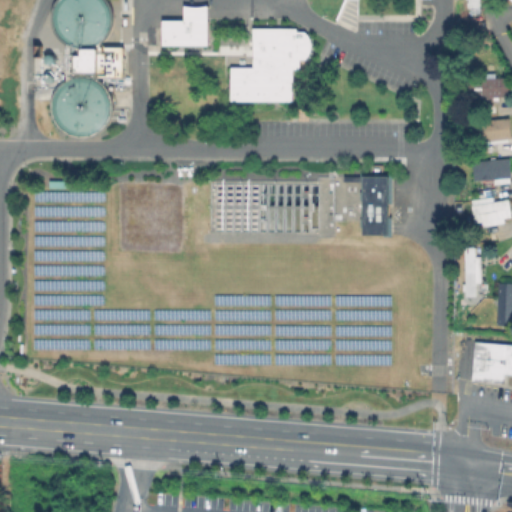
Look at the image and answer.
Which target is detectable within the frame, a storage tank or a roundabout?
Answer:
storage tank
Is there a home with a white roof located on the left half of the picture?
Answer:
Yes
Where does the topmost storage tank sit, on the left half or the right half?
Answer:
left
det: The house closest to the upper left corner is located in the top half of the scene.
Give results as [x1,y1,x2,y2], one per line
[72,48,96,75]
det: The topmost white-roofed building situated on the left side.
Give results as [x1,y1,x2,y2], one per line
[162,5,208,47]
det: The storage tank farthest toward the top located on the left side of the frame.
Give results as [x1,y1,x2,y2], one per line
[50,0,114,48]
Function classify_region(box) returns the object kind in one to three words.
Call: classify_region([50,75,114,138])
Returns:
storage tank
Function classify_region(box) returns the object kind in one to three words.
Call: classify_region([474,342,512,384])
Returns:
building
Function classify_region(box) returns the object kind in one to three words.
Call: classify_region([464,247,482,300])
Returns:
house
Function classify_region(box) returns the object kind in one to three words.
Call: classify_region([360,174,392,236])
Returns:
building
